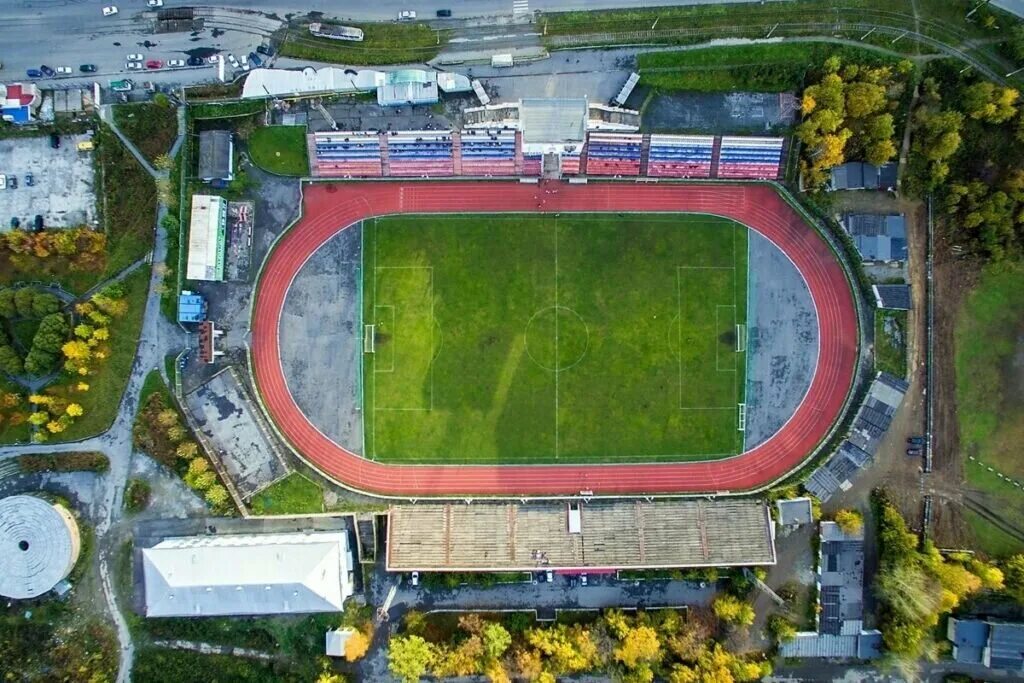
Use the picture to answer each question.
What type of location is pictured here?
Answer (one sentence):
This looks like a sports ground.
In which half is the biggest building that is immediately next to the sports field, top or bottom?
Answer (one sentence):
It is in the bottom half that the biggest building that is immediately next to the sports field appears.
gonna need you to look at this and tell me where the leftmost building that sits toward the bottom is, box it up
[0,493,81,599]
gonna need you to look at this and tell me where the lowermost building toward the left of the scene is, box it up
[326,625,354,658]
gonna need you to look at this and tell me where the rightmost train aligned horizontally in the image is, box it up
[307,20,360,39]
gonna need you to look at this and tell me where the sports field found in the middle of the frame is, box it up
[362,212,747,465]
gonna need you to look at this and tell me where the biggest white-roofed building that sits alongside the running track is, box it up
[142,525,359,617]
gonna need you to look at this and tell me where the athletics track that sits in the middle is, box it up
[252,180,858,495]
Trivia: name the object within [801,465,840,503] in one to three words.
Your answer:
shed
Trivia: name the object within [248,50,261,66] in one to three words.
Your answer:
vehicle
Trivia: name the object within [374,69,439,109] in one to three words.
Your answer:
building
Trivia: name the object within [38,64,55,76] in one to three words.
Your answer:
vehicle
